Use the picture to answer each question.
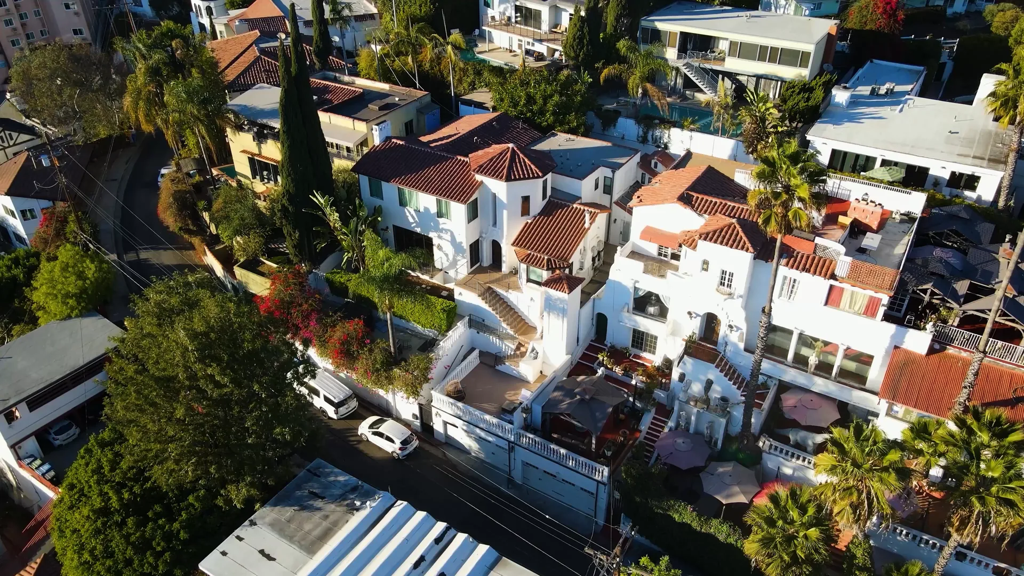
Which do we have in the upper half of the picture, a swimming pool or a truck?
swimming pool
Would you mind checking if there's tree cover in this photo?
Yes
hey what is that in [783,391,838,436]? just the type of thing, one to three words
umbrella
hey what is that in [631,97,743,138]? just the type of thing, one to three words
swimming pool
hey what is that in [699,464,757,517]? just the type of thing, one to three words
umbrella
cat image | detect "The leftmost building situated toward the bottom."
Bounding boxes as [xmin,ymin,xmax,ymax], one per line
[0,310,131,474]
